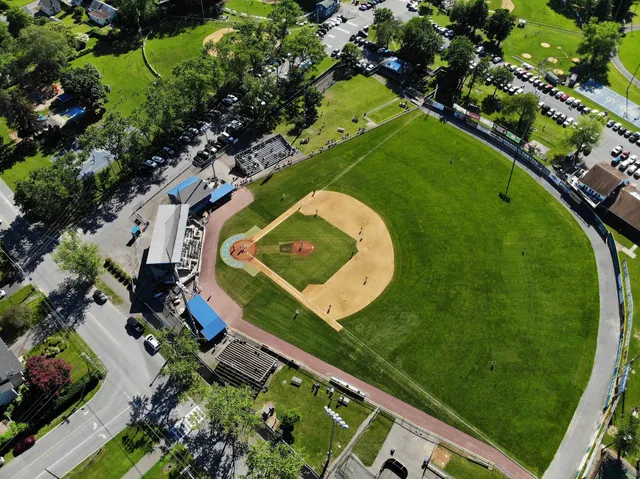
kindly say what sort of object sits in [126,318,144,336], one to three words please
vehicle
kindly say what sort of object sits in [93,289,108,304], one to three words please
car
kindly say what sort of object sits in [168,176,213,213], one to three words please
building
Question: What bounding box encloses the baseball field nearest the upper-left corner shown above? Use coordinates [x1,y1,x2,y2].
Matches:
[143,24,258,77]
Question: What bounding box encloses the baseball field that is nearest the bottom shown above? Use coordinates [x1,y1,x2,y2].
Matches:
[199,107,621,479]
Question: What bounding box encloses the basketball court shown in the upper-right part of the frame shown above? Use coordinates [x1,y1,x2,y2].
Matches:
[574,76,640,122]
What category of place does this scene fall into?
sports ground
